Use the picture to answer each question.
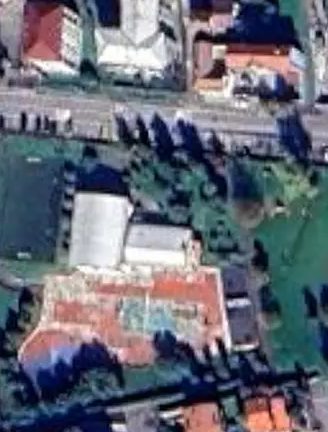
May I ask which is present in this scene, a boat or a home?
home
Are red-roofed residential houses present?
Yes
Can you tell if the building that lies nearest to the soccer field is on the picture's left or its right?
left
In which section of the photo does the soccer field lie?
left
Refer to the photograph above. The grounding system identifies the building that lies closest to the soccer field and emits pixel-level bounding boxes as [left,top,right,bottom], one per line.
[69,194,141,272]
